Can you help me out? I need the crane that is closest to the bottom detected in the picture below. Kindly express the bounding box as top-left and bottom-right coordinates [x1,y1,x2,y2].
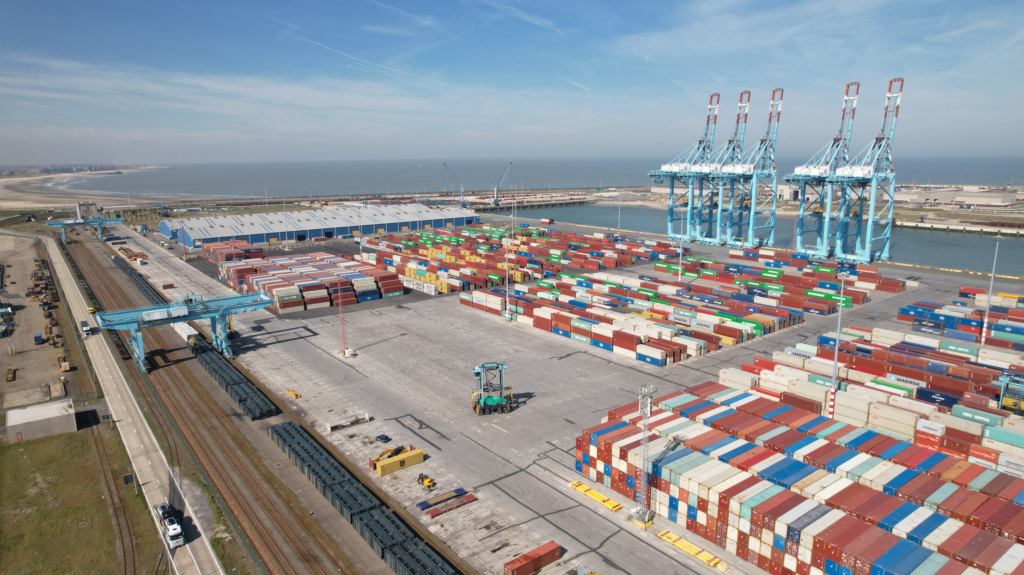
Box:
[95,286,277,373]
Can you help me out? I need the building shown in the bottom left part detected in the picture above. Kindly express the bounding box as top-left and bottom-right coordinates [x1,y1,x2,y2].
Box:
[6,399,77,444]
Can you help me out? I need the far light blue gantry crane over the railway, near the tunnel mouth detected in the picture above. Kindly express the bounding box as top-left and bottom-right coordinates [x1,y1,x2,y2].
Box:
[46,214,122,243]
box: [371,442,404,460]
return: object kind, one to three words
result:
work vehicle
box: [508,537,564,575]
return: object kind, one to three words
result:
shipping container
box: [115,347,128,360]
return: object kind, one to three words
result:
rail car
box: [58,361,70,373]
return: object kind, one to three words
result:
vehicle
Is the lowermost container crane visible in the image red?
No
